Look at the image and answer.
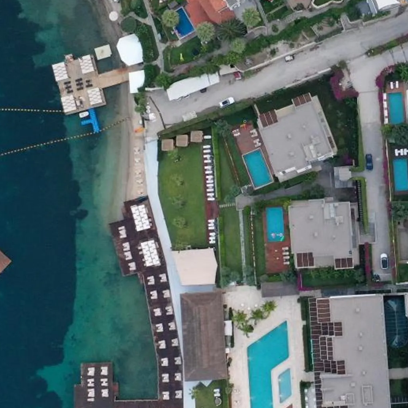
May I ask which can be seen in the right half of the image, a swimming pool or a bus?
swimming pool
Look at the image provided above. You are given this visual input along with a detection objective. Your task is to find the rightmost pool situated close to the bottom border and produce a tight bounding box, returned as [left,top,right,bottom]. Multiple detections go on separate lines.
[279,368,291,405]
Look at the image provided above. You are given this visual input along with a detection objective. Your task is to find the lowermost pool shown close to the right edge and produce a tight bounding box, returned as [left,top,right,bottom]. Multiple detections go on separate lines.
[392,157,408,192]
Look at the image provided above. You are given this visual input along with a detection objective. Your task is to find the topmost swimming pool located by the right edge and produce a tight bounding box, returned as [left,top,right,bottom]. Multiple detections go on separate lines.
[386,91,405,125]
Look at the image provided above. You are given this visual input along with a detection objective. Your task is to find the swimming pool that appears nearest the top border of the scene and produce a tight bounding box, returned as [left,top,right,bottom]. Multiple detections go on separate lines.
[171,6,195,40]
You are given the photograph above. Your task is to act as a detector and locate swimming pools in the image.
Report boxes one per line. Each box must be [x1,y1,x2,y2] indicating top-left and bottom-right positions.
[267,206,285,243]
[392,157,408,192]
[246,318,290,408]
[171,6,195,40]
[386,91,405,125]
[242,147,274,191]
[279,368,291,405]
